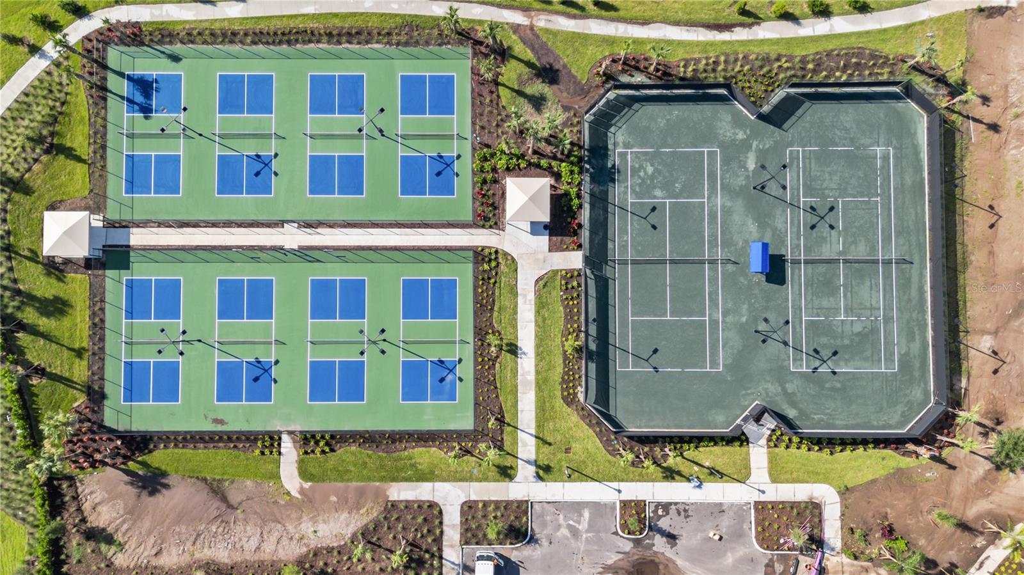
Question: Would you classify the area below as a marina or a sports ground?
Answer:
sports ground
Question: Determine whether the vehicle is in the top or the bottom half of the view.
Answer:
bottom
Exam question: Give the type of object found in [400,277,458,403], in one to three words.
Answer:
sports court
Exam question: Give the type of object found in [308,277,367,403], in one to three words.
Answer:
sports court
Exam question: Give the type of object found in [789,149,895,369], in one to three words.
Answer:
tennis court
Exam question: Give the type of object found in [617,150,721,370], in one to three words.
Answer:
tennis court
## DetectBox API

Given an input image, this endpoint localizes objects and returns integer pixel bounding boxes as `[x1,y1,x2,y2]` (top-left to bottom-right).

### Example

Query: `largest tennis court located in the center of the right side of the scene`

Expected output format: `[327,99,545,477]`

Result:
[583,86,935,432]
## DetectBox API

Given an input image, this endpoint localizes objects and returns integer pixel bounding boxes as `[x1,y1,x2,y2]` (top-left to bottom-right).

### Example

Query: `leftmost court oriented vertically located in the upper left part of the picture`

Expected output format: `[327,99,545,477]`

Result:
[123,73,183,196]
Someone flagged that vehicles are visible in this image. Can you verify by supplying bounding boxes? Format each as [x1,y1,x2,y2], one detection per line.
[475,549,504,575]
